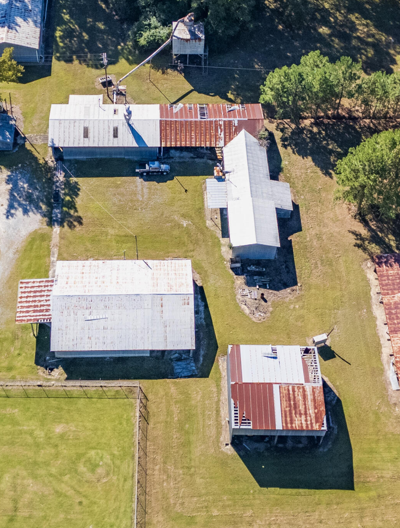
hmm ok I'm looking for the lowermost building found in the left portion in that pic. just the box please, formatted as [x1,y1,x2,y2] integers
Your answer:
[16,260,194,357]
